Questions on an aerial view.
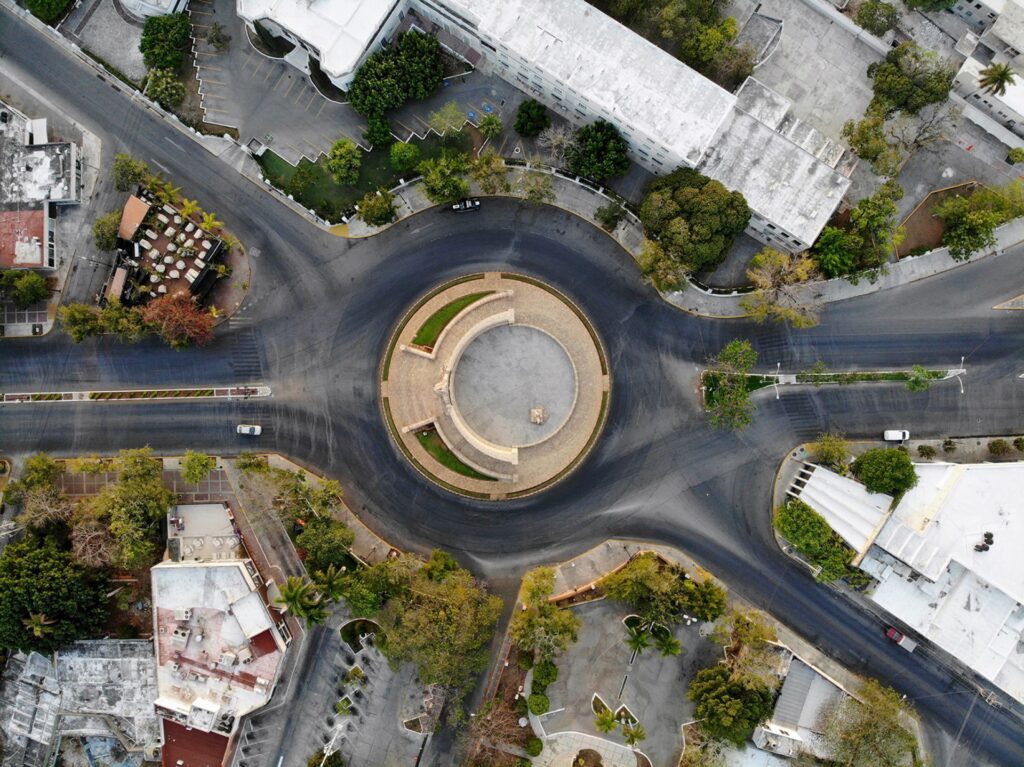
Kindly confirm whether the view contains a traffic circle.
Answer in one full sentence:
Yes, looking at the shot, I can spot a traffic circle.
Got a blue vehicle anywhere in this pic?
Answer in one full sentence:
No, the picture doesn't show any blue vehicle.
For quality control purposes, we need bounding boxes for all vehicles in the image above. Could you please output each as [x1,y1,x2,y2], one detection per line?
[451,199,482,213]
[885,627,920,653]
[883,429,910,444]
[237,424,262,436]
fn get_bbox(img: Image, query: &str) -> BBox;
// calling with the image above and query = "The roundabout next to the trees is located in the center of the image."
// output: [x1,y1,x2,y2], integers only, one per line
[324,214,668,558]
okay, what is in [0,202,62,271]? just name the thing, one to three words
building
